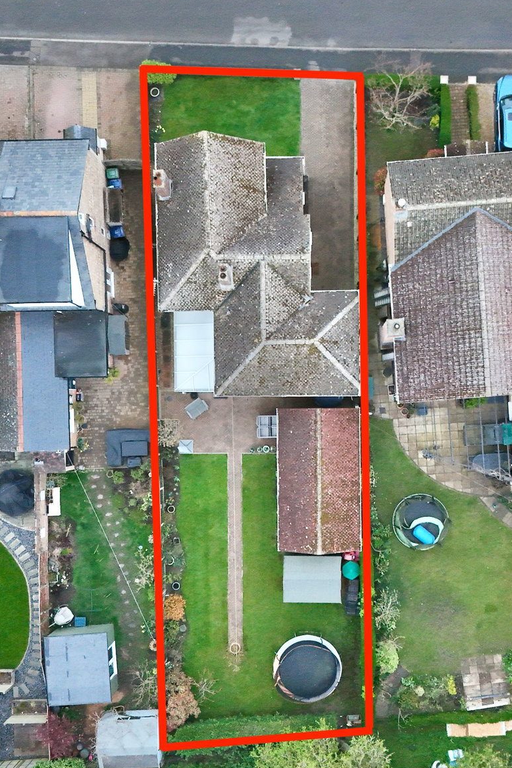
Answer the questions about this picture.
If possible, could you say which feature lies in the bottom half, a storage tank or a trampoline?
trampoline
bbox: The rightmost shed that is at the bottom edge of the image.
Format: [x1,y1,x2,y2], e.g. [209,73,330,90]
[95,705,164,768]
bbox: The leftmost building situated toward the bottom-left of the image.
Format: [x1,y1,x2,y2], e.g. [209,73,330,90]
[43,625,117,708]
